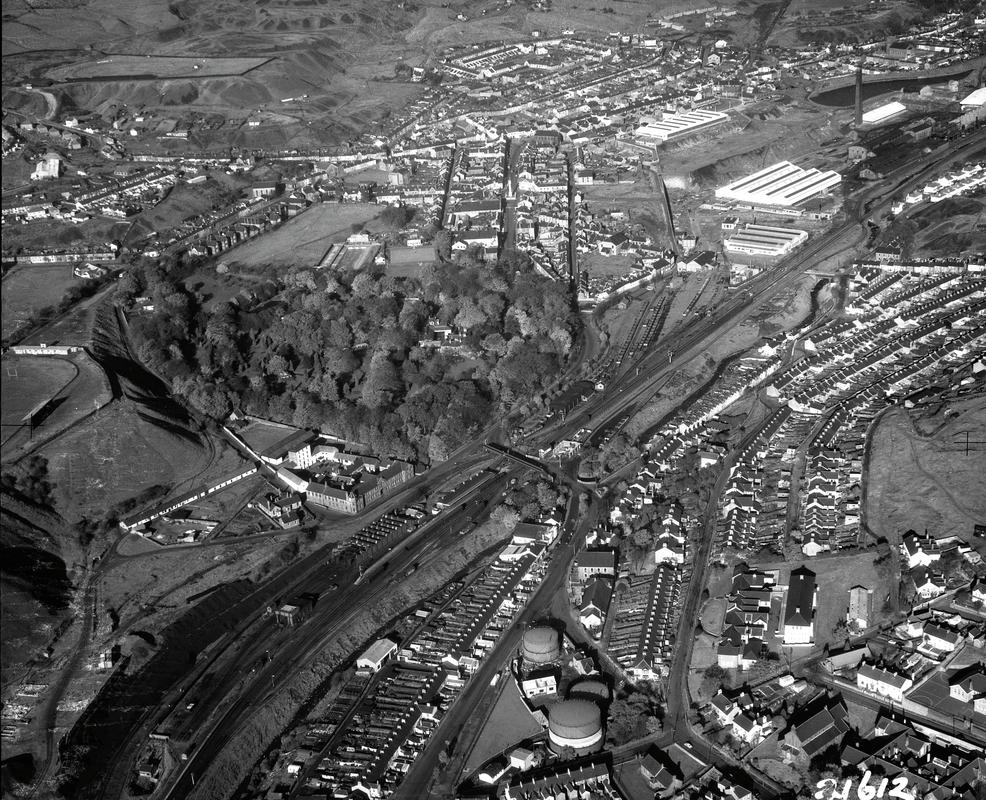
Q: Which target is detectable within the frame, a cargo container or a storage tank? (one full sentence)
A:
Looking from above, you can make out a storage tank.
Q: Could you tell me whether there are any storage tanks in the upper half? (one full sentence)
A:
No, there is no storage tank in the upper half.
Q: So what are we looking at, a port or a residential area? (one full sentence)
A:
The area seen from above is a residential area.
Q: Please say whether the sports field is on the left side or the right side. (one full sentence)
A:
It is on the left.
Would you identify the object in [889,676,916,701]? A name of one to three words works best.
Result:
house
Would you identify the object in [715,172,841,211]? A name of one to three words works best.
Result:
building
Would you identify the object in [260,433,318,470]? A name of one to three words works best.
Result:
shed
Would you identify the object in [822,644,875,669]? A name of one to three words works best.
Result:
building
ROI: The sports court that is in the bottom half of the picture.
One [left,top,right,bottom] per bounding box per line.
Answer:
[909,672,975,717]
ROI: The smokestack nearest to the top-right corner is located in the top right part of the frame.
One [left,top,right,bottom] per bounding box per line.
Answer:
[852,65,865,126]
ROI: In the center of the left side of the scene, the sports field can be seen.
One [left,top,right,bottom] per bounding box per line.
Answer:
[0,359,66,415]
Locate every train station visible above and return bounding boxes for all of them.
[350,473,501,582]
